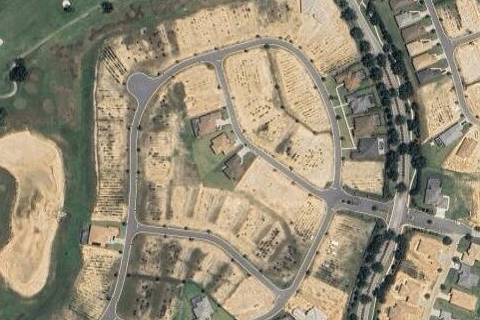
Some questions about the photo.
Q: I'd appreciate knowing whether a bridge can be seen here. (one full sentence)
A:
No, no bridge can be seen from above.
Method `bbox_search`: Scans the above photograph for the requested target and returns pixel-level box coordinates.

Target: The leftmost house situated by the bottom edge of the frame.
[189,294,214,320]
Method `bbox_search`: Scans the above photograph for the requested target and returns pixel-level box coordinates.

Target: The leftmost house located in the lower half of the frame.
[86,227,113,245]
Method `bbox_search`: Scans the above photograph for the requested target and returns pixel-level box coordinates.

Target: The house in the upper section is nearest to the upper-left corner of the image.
[189,113,219,132]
